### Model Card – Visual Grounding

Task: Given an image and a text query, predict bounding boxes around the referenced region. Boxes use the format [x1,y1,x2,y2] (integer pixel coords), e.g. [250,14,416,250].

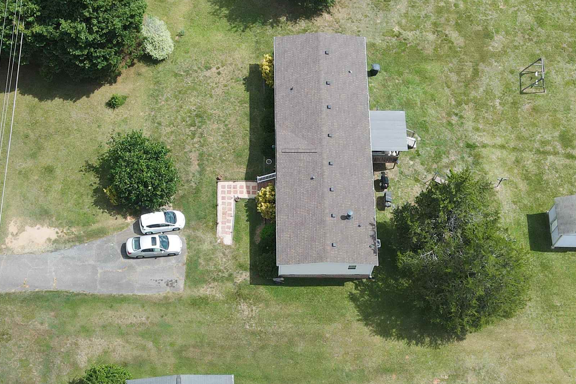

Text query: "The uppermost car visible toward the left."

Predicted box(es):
[139,203,186,232]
